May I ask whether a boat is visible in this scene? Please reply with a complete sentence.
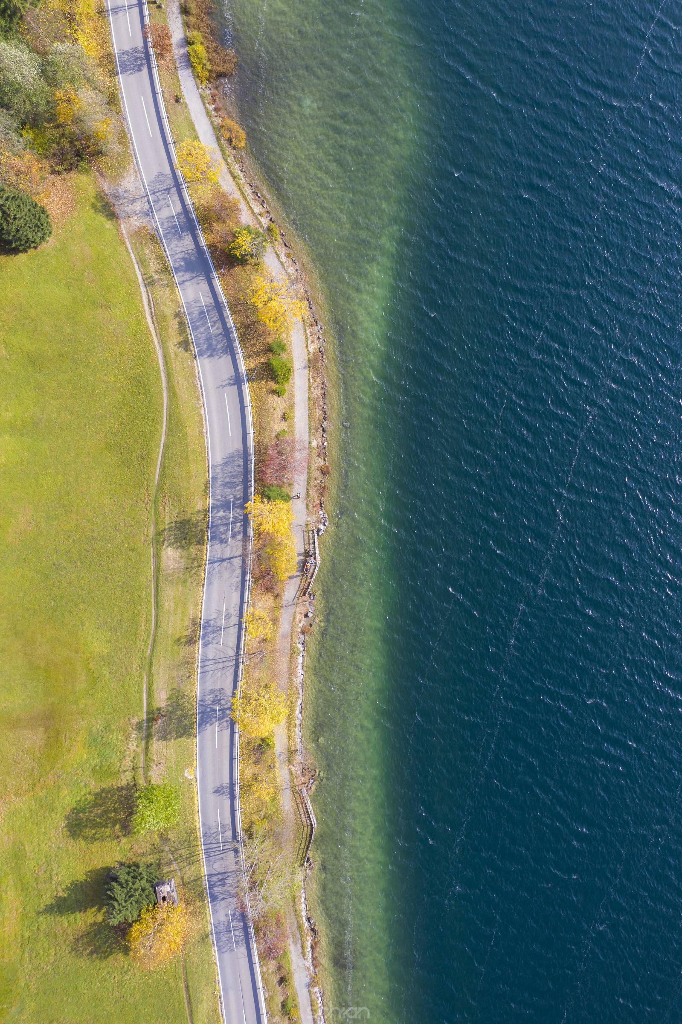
No, there's no boat here.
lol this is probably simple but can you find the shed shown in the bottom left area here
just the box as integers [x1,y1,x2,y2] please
[156,872,181,905]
